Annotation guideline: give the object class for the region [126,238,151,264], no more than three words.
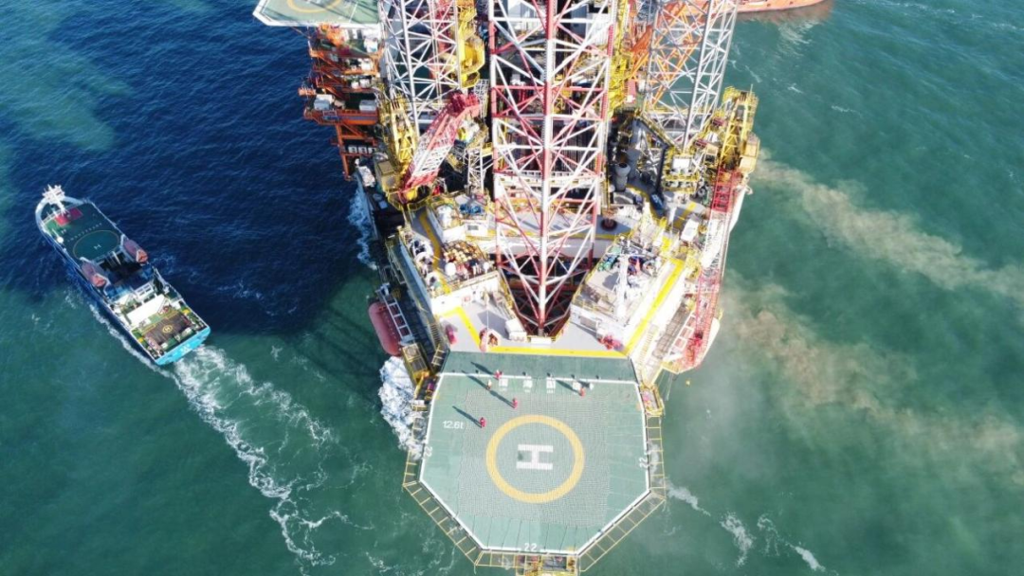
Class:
boat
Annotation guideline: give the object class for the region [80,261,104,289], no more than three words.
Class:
boat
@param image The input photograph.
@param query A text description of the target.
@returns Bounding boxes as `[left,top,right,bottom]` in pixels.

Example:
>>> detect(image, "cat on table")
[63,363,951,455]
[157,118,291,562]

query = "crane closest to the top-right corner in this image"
[670,78,770,376]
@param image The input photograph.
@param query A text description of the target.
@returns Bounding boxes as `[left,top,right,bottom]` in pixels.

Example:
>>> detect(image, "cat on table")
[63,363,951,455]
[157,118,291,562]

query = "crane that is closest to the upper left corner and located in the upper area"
[371,86,489,235]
